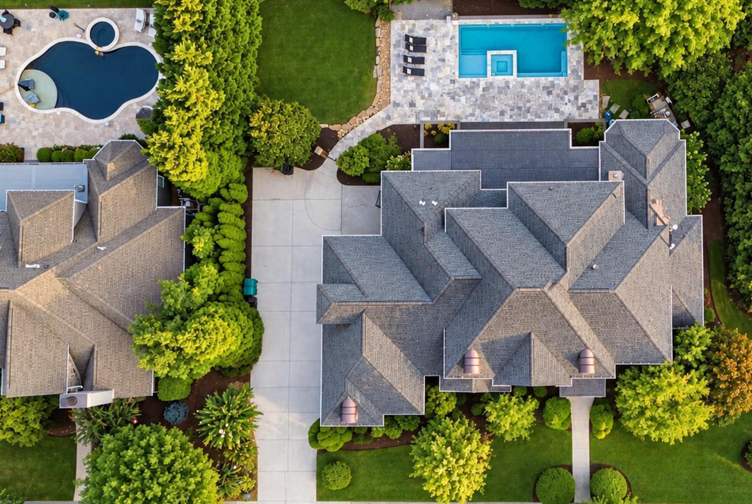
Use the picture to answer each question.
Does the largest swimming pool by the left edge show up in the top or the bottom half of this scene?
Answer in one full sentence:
You can find the largest swimming pool by the left edge in the top half.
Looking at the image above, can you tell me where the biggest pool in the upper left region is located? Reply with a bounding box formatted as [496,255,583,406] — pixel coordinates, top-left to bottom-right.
[14,35,161,124]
